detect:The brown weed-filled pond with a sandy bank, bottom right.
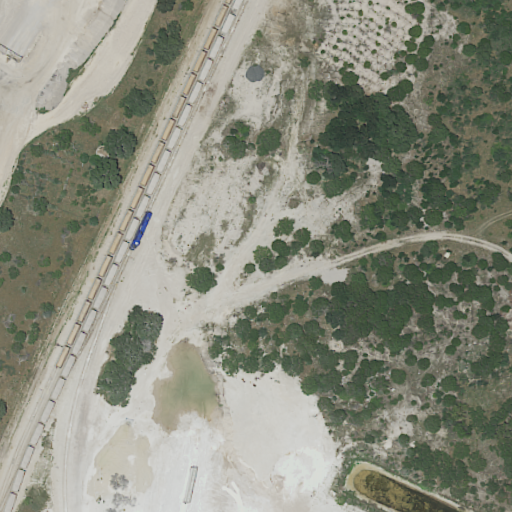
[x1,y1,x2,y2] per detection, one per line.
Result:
[354,470,454,512]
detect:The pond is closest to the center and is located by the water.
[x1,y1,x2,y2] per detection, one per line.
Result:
[152,338,217,434]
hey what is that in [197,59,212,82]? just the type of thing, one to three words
rail car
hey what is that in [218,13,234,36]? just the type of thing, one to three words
rail car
